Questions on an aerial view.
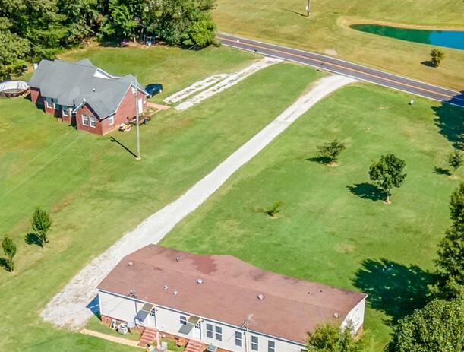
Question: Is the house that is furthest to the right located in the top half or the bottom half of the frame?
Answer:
bottom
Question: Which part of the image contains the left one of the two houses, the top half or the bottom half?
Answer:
top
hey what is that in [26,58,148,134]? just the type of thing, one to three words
house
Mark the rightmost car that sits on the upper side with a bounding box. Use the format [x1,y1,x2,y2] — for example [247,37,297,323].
[142,81,170,96]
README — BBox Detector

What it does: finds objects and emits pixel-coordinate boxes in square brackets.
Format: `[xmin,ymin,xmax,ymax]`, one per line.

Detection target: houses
[26,58,148,134]
[95,243,371,352]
